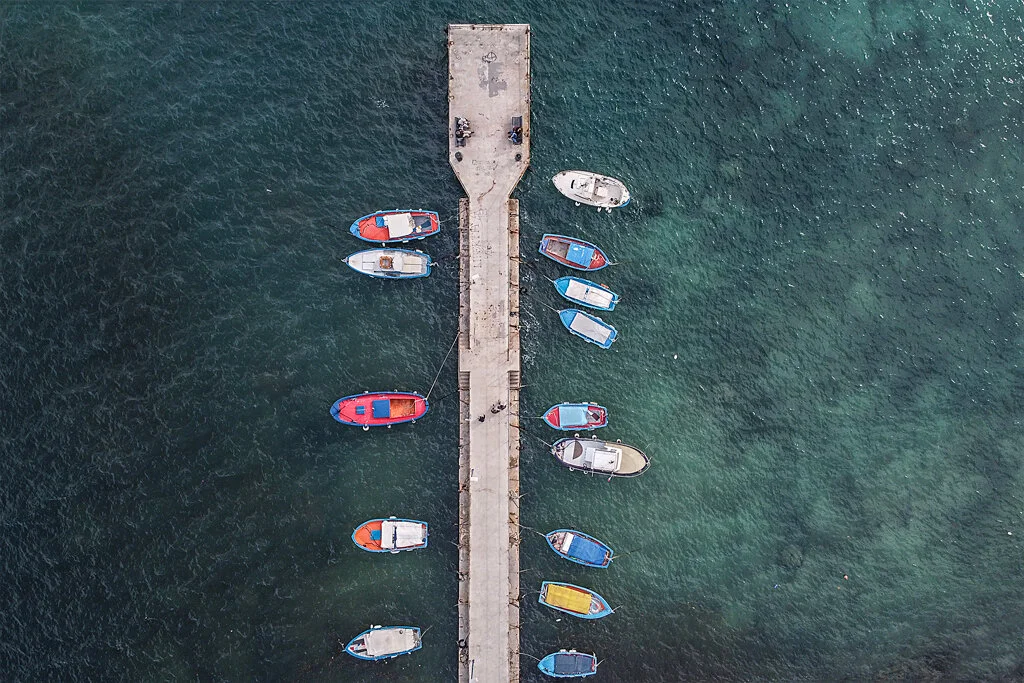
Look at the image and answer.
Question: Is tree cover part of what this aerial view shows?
No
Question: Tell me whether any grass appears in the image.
No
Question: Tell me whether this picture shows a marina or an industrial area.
marina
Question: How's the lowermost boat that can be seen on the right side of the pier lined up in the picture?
from left to right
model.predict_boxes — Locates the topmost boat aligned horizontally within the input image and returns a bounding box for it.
[552,170,630,213]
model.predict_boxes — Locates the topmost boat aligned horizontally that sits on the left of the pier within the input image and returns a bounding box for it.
[349,208,439,246]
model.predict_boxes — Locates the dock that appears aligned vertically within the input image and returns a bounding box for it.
[448,24,530,683]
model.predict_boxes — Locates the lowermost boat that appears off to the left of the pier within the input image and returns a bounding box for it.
[345,624,423,662]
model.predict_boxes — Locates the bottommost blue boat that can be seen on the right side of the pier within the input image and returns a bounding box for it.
[538,649,597,677]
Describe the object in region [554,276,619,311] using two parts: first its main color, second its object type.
white boat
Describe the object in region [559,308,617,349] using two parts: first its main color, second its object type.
white boat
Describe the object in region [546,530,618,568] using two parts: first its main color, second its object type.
blue boat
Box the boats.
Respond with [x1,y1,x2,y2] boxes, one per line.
[329,389,429,431]
[543,401,608,431]
[538,580,613,619]
[349,208,439,246]
[554,276,619,311]
[552,170,630,213]
[538,649,597,677]
[539,234,610,271]
[345,624,423,662]
[559,308,617,349]
[552,433,650,482]
[546,530,618,568]
[351,516,428,554]
[345,249,435,279]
